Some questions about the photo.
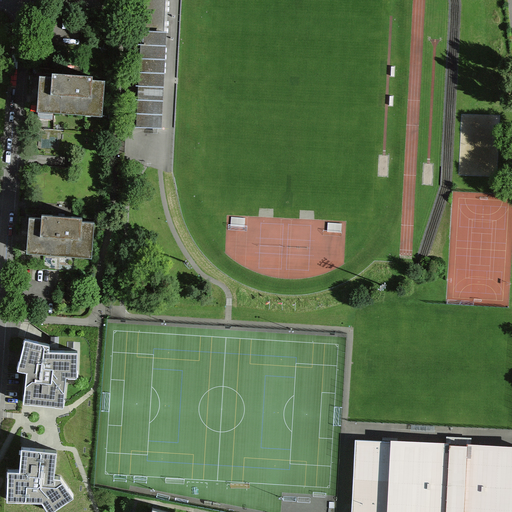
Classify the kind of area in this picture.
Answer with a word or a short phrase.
sports ground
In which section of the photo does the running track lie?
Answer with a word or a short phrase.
top right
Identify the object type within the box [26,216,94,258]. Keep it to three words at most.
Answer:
house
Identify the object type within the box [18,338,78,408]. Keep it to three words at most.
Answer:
building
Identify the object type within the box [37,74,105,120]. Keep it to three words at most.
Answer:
house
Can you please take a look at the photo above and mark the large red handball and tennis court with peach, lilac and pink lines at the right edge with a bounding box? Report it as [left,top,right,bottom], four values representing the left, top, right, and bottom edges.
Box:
[446,192,512,308]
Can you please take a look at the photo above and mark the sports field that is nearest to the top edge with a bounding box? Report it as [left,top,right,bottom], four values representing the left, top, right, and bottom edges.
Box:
[174,0,448,296]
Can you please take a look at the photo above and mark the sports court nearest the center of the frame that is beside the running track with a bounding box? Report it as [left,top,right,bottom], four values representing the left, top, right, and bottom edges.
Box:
[225,215,346,280]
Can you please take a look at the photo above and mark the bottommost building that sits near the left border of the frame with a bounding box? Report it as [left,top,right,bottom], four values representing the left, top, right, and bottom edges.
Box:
[6,447,74,512]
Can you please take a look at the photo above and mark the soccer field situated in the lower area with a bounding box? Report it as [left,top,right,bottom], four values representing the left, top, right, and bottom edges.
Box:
[95,324,346,512]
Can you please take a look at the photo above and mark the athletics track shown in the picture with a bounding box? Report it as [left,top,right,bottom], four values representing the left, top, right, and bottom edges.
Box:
[400,0,425,255]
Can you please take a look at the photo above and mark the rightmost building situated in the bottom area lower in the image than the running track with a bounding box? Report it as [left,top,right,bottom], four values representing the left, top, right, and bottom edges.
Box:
[350,436,512,512]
